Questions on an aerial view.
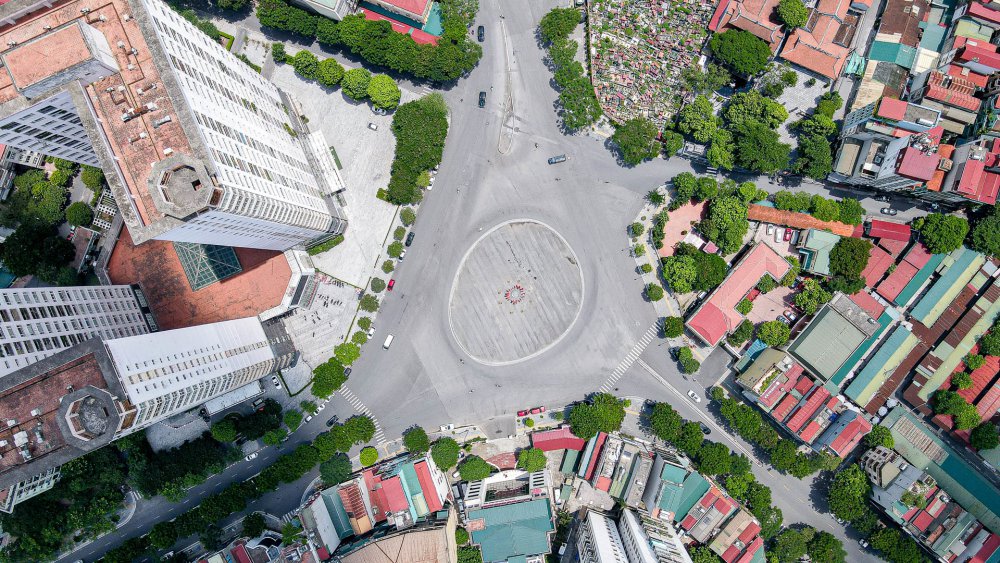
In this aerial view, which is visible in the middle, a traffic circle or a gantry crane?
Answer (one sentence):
You can see a traffic circle in the middle.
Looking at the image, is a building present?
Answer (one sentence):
Yes, a building appears in the view.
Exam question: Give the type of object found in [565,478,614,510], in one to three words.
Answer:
house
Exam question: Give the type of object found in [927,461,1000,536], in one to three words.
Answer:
building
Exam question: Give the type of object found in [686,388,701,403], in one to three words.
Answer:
car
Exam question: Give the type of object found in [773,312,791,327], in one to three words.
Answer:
car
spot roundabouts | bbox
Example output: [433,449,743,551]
[449,220,584,365]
